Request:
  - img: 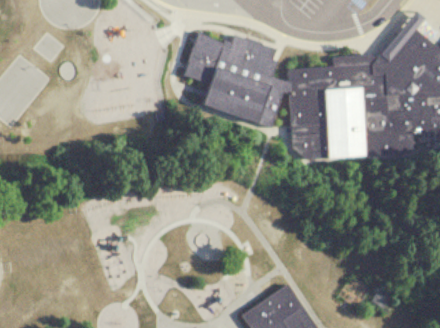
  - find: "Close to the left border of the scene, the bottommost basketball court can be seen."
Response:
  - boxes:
[0,56,50,126]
